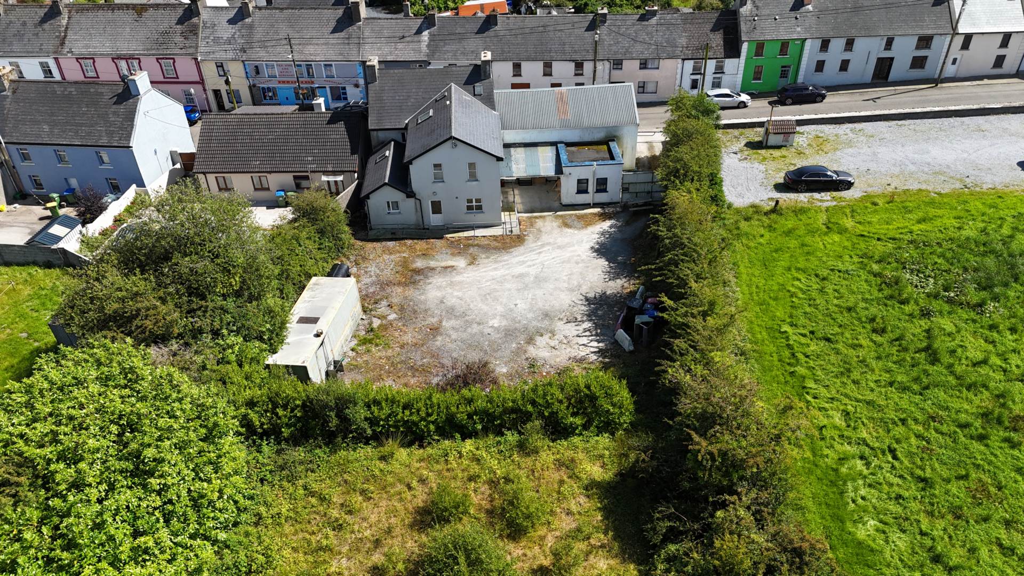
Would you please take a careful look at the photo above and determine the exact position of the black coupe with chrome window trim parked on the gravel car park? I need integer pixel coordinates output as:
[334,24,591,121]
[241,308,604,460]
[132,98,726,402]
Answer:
[786,164,857,192]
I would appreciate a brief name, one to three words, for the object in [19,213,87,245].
shed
